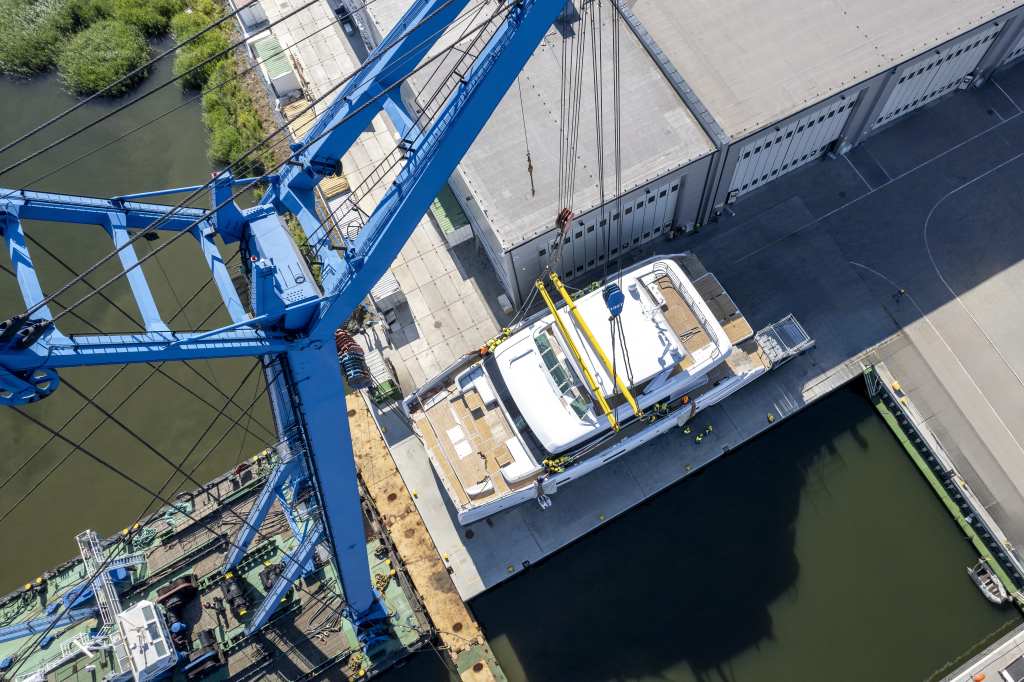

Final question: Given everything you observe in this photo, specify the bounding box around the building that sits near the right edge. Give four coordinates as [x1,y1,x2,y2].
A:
[623,0,1024,216]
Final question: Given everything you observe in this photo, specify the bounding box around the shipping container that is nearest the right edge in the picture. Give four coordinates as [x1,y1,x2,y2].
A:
[430,181,475,250]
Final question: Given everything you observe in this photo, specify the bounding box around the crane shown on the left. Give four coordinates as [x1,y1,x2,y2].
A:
[0,0,621,682]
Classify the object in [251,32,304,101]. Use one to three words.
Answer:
shipping container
